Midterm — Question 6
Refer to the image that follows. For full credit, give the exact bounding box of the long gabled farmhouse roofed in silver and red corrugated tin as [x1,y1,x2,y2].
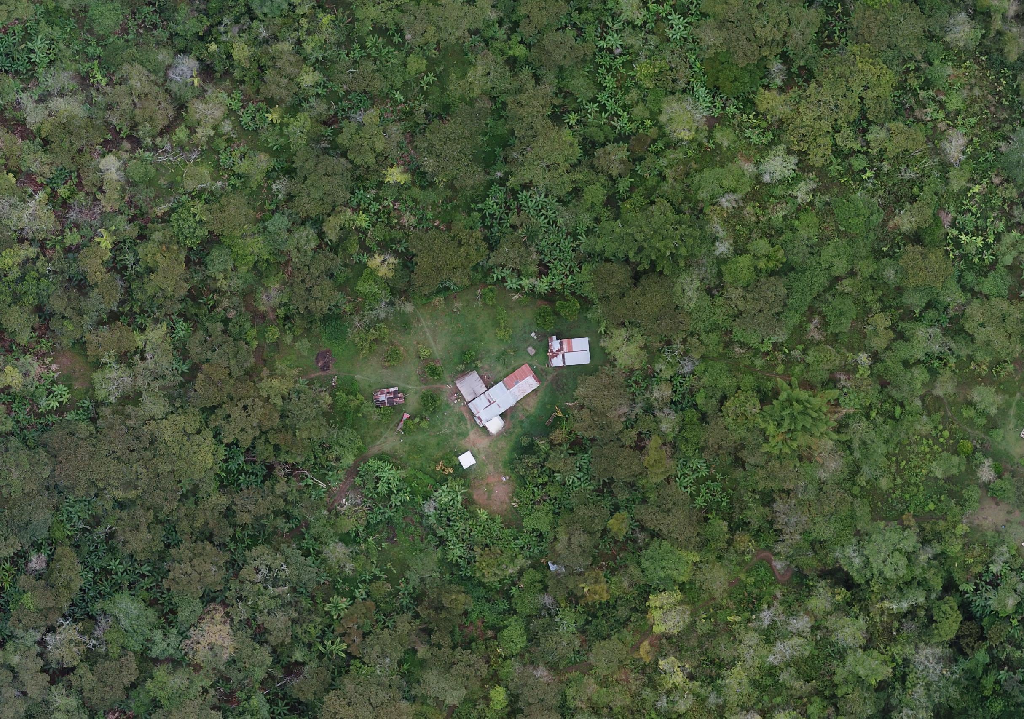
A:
[468,363,541,427]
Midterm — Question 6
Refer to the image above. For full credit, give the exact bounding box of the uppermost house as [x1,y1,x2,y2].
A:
[547,336,590,367]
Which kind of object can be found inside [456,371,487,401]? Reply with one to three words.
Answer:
barn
